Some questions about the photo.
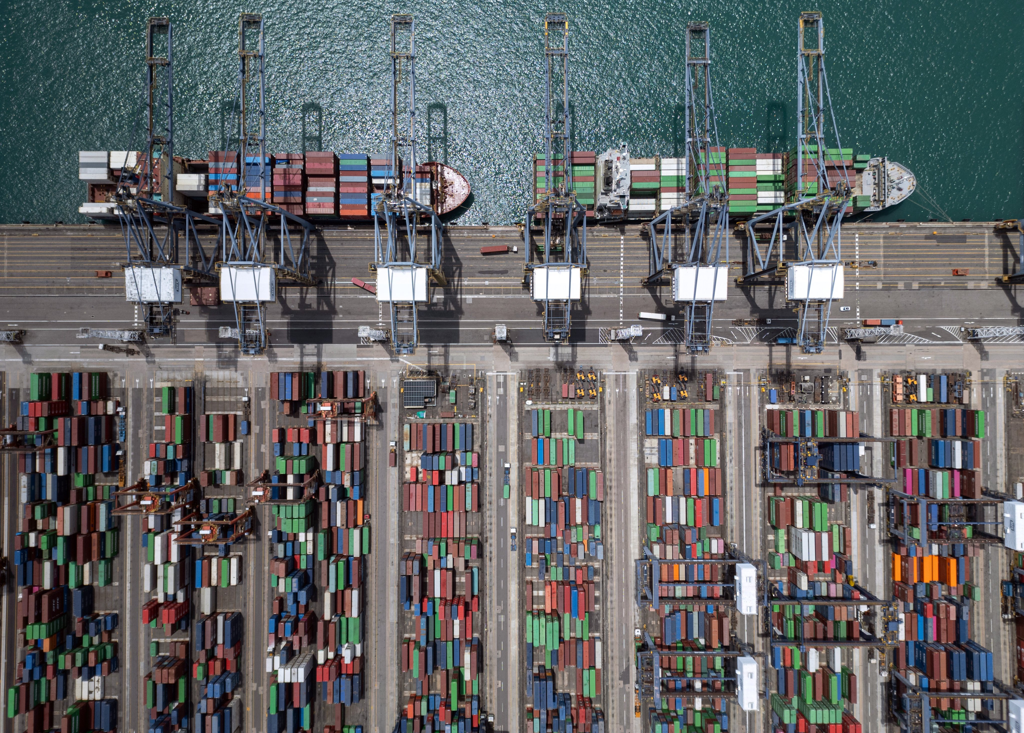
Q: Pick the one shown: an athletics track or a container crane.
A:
container crane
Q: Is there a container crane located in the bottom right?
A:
Yes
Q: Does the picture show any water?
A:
Yes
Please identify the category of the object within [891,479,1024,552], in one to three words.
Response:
container crane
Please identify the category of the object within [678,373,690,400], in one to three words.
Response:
vehicle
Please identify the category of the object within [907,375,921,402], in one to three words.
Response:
work vehicle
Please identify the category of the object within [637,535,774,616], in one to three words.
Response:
container crane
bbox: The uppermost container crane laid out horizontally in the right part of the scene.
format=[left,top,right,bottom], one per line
[763,423,903,490]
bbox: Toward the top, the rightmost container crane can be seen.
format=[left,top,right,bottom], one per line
[987,217,1024,282]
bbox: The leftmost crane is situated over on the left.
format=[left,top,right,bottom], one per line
[0,422,63,454]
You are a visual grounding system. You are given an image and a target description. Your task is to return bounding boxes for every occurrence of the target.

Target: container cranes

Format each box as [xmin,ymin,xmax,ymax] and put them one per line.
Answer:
[512,14,591,341]
[891,479,1024,552]
[373,15,459,355]
[245,471,318,506]
[0,422,63,454]
[987,217,1024,282]
[170,508,249,546]
[632,21,728,354]
[120,23,242,343]
[110,480,190,516]
[306,391,376,422]
[639,620,776,711]
[637,535,774,616]
[728,12,847,354]
[896,658,1024,733]
[763,423,903,490]
[219,16,330,356]
[766,573,913,655]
